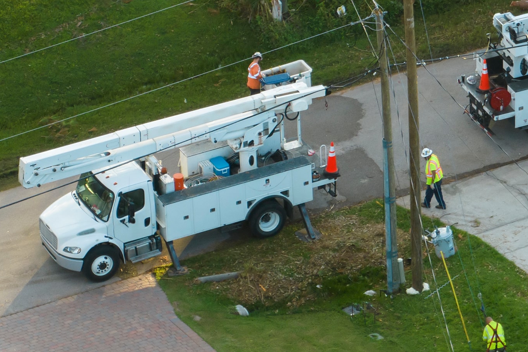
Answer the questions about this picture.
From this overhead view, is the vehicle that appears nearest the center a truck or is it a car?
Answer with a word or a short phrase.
truck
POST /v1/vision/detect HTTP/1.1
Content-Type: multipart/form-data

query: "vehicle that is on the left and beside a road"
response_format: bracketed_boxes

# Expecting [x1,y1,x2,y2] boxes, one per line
[13,69,345,279]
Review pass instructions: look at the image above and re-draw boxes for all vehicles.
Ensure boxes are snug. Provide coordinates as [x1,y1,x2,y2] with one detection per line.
[13,69,345,279]
[448,9,528,140]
